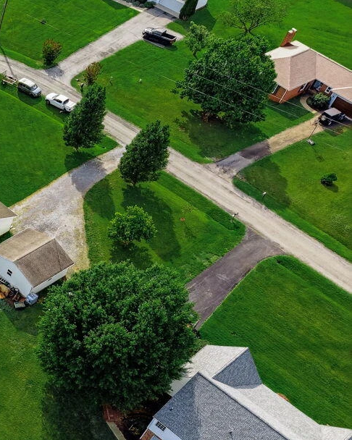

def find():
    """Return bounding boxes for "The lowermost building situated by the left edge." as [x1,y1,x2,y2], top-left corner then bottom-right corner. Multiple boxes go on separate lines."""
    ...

[0,228,73,296]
